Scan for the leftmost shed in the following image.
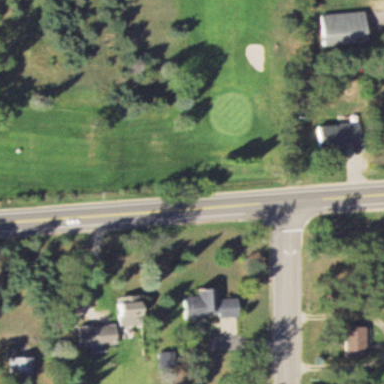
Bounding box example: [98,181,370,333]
[10,356,36,372]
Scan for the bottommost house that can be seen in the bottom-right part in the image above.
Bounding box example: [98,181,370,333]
[346,326,368,352]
